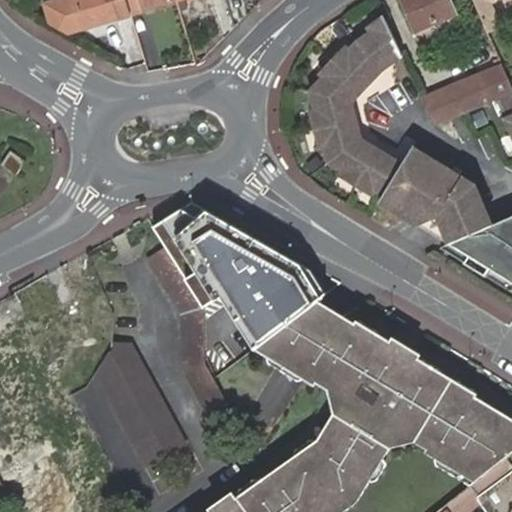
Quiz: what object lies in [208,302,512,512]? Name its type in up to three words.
building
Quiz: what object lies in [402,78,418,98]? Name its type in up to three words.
car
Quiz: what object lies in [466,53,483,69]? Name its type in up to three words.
car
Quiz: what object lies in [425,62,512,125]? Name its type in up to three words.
house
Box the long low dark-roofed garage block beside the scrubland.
[72,341,187,472]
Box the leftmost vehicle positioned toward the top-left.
[106,26,122,48]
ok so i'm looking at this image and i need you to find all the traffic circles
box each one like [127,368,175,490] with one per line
[68,70,272,206]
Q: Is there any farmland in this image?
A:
No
